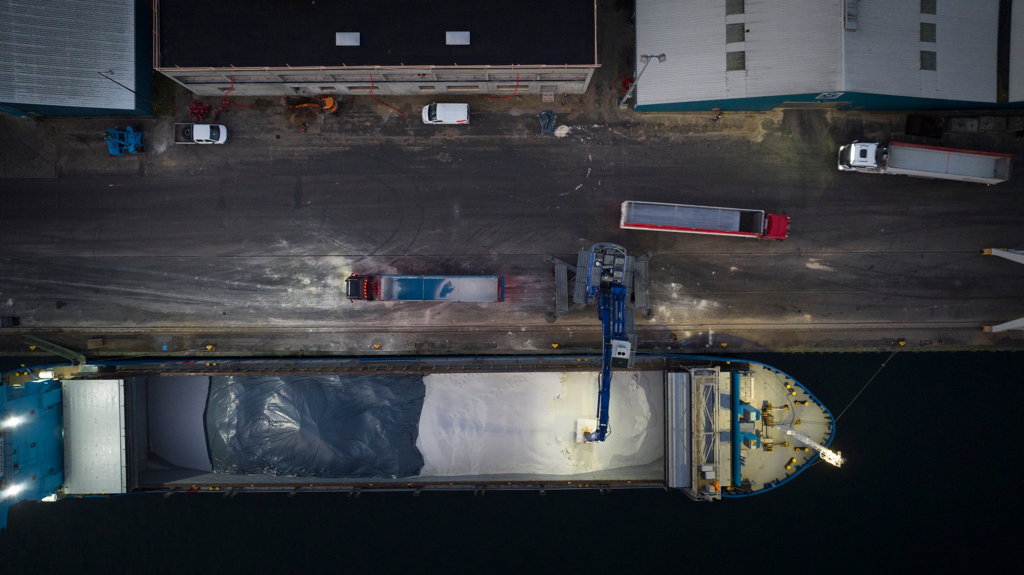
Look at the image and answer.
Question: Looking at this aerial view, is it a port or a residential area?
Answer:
port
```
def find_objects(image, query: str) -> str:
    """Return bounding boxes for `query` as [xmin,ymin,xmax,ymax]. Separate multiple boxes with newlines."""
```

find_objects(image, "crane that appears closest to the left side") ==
[545,243,655,444]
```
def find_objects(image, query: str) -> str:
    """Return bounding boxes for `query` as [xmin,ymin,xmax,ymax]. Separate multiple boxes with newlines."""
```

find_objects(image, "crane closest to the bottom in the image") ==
[676,364,721,501]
